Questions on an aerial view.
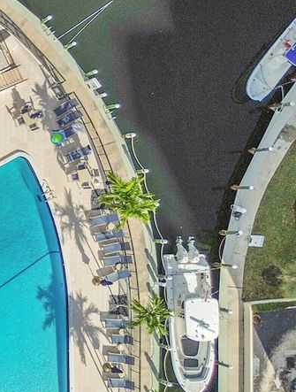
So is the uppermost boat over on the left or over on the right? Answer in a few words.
right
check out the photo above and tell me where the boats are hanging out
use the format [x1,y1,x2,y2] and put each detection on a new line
[160,237,218,392]
[249,11,296,102]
